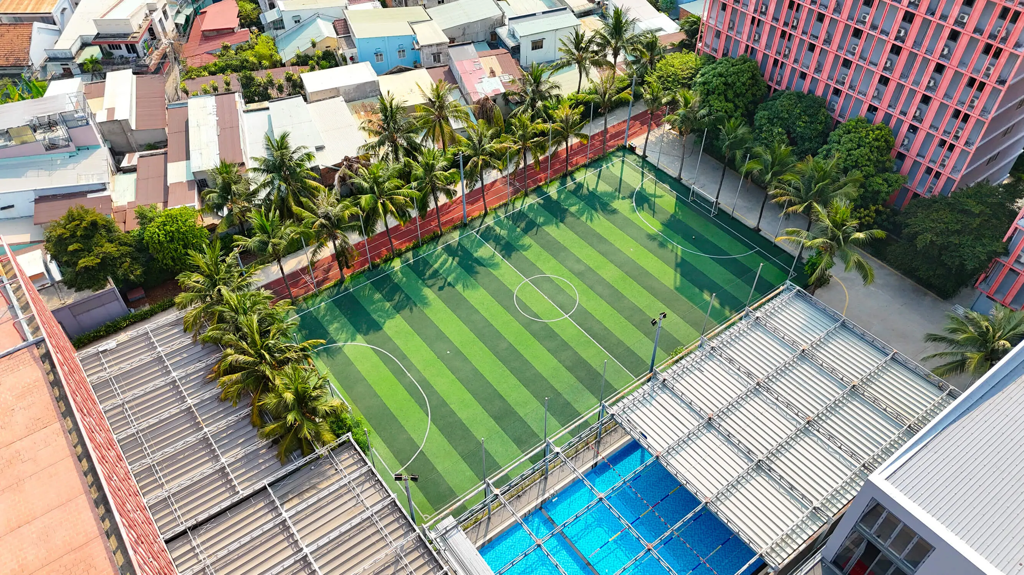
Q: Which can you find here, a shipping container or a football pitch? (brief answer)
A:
football pitch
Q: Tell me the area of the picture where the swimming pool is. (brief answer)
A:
bottom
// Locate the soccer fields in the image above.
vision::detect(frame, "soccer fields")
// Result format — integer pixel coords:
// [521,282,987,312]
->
[283,148,816,539]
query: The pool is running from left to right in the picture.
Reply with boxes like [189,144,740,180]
[483,440,759,575]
